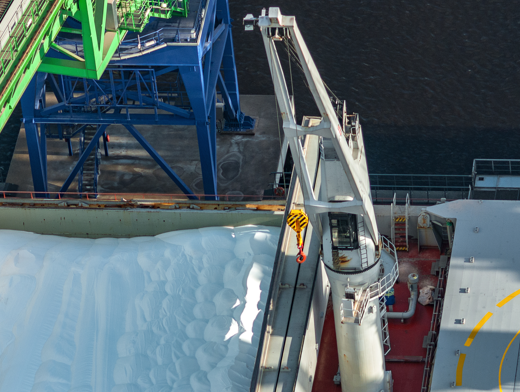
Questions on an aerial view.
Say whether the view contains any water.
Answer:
Yes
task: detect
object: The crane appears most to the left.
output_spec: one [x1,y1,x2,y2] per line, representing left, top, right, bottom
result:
[244,11,405,392]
